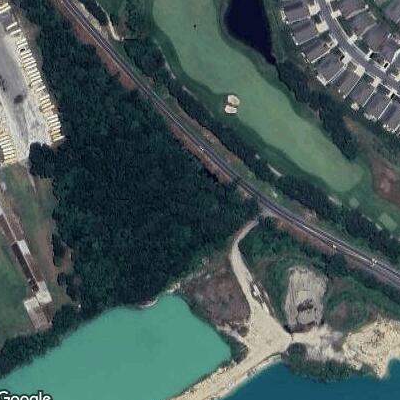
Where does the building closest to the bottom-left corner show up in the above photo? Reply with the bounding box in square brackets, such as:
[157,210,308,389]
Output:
[25,298,48,327]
